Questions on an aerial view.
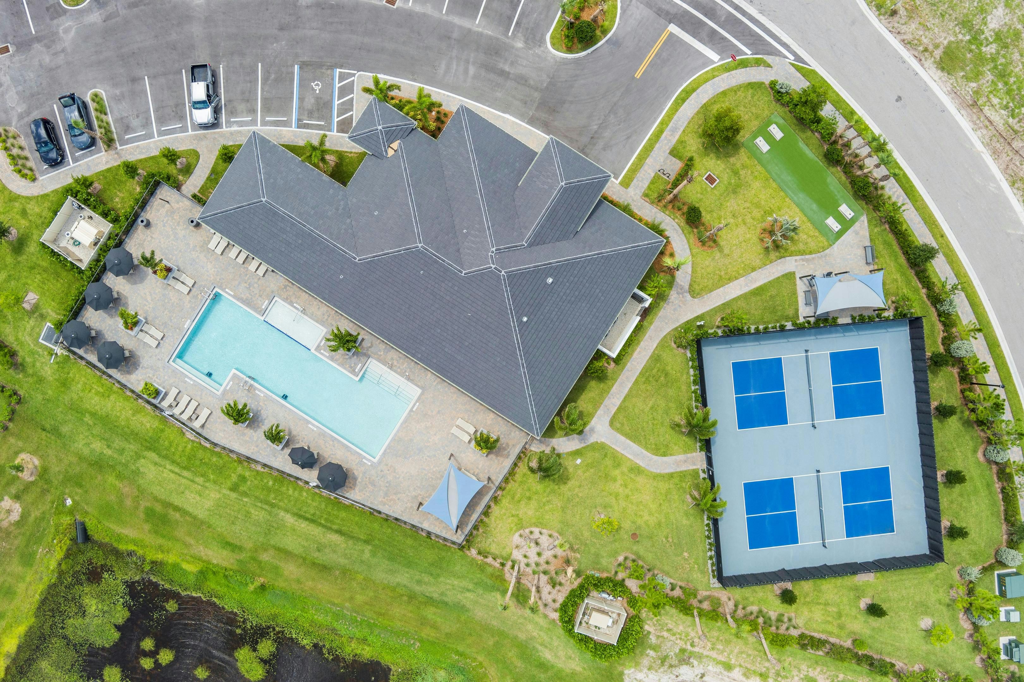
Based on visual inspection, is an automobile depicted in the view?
Yes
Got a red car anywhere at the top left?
No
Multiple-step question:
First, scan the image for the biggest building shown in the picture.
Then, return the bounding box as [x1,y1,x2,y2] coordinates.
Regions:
[196,94,667,440]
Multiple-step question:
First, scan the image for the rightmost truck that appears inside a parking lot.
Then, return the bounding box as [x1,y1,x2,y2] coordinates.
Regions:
[187,62,224,128]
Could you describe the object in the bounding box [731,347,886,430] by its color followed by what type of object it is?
blue sports court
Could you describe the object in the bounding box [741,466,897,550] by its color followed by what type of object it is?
blue sports court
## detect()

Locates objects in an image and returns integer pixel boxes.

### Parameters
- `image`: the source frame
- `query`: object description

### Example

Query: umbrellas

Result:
[86,283,117,310]
[98,341,127,370]
[106,249,136,276]
[289,442,315,470]
[318,462,347,490]
[63,319,93,348]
